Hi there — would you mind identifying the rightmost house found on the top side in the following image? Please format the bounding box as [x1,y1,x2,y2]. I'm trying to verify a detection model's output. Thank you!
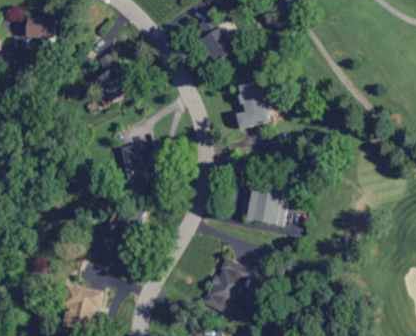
[238,82,272,130]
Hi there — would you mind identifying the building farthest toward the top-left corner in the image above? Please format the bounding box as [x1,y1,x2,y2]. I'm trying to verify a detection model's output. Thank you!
[26,16,57,40]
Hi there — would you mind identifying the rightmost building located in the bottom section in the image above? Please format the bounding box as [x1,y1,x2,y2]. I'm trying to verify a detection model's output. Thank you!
[246,190,288,228]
